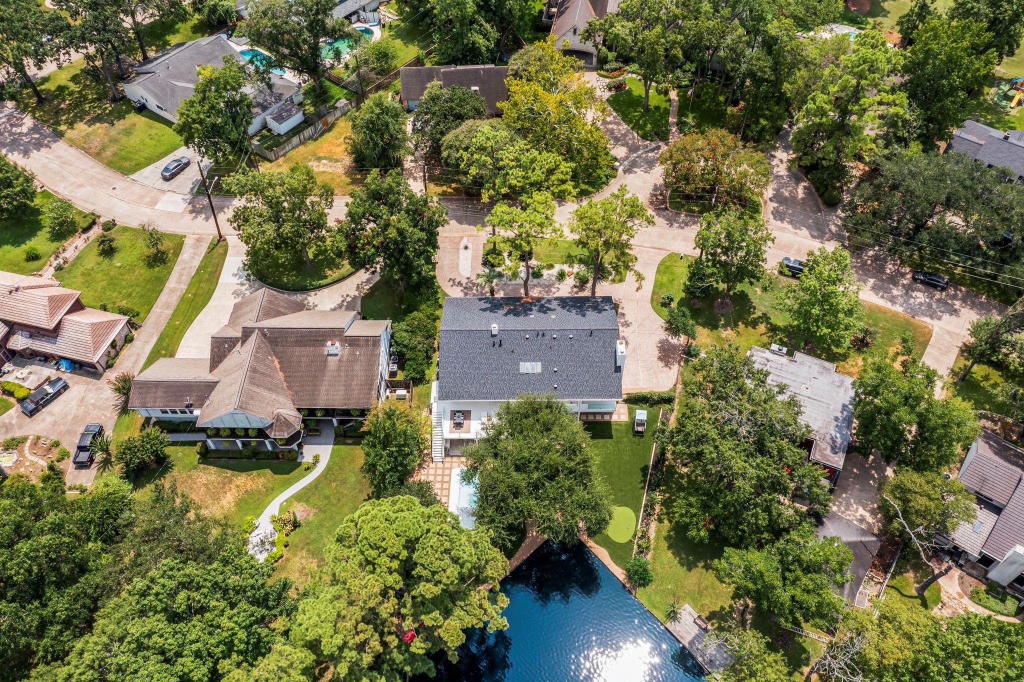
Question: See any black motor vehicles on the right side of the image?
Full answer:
Yes, a black motor vehicle can be seen on the right side of the image.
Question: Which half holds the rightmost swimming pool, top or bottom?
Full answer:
The rightmost swimming pool is in the bottom half of the image.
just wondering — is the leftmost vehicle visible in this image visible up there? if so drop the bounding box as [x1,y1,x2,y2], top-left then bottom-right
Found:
[17,380,65,416]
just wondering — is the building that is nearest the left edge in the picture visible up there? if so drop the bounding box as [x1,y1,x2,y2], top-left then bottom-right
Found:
[0,257,130,382]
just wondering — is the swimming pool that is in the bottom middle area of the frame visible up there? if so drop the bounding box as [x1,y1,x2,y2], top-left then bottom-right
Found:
[449,469,507,532]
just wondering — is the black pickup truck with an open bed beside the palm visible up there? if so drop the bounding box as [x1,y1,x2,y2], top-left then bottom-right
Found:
[69,425,100,466]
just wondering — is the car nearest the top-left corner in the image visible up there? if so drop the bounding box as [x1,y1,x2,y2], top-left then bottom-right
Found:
[159,158,191,179]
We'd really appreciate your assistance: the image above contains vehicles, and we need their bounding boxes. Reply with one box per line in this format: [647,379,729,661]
[780,258,813,278]
[69,425,100,466]
[915,271,951,291]
[159,158,191,179]
[17,380,65,416]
